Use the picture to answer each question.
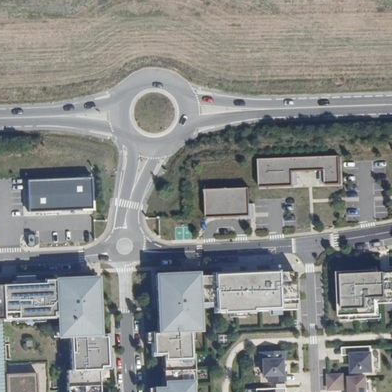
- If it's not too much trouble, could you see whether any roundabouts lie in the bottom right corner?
No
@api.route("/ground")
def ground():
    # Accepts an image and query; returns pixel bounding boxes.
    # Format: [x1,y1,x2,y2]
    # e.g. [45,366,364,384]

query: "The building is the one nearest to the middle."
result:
[202,186,248,218]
